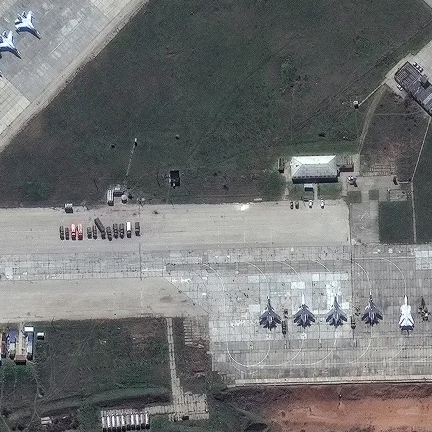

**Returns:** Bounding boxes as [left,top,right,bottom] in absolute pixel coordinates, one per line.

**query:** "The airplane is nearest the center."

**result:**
[258,296,281,327]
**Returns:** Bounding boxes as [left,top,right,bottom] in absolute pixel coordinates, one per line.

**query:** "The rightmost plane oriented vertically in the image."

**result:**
[399,296,414,329]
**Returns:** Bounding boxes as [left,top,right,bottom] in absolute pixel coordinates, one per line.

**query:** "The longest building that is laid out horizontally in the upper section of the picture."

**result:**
[291,156,338,179]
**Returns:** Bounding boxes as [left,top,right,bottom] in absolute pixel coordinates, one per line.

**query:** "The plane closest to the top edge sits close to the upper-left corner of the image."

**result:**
[13,10,41,37]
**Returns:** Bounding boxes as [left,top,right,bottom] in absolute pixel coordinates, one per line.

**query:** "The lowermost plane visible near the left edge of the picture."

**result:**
[0,28,19,54]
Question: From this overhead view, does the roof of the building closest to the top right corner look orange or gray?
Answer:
gray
